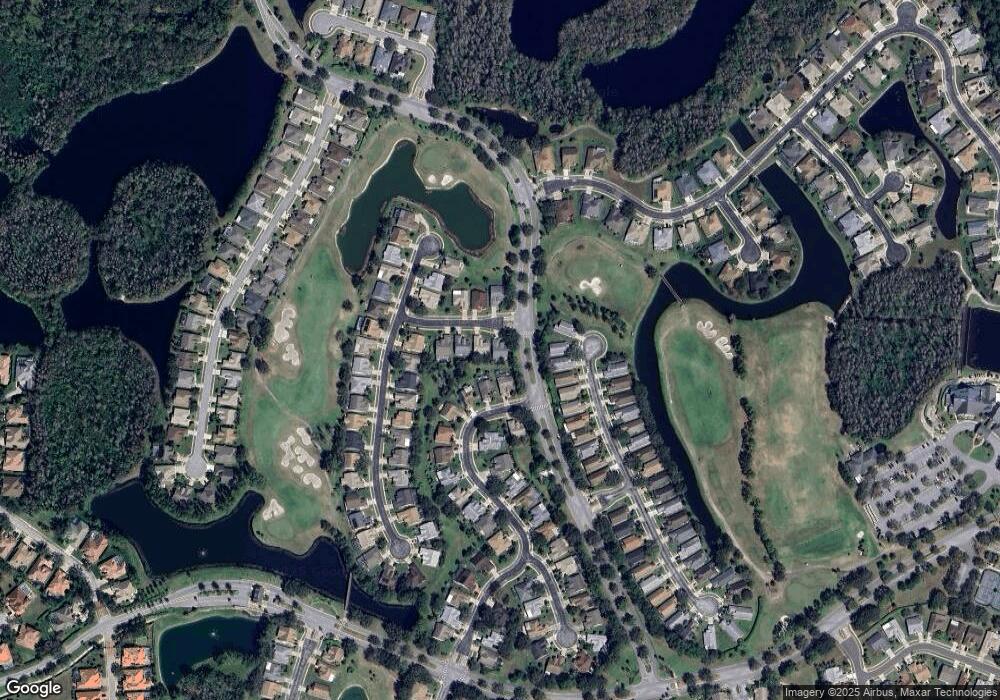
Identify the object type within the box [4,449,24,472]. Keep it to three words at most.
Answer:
house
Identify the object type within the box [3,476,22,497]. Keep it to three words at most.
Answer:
house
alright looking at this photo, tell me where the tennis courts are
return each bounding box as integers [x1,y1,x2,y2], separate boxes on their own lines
[974,567,1000,610]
